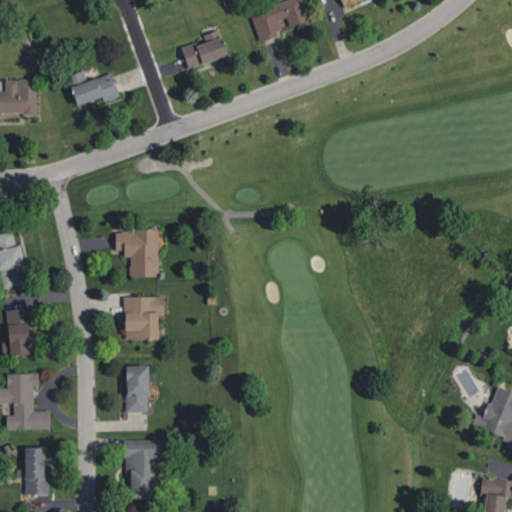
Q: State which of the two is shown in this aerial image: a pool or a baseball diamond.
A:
pool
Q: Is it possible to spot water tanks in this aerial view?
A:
No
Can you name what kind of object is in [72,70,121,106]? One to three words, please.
house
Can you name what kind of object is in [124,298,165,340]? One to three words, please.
house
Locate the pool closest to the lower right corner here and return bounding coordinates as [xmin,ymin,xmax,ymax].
[448,468,477,505]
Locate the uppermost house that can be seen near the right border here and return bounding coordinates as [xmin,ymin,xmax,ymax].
[472,383,512,440]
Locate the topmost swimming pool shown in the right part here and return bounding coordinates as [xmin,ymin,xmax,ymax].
[453,365,490,413]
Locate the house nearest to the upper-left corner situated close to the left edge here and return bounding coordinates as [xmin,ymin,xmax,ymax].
[0,80,38,115]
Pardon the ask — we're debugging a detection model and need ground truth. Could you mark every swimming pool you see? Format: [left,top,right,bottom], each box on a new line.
[448,468,477,505]
[453,365,490,413]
